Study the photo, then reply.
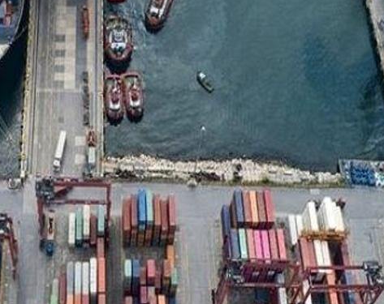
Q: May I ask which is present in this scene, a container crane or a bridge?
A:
container crane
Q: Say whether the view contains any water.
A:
Yes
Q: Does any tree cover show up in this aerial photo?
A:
No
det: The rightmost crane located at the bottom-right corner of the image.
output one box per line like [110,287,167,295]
[288,261,384,304]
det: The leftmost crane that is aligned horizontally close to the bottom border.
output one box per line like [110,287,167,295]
[211,260,309,304]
